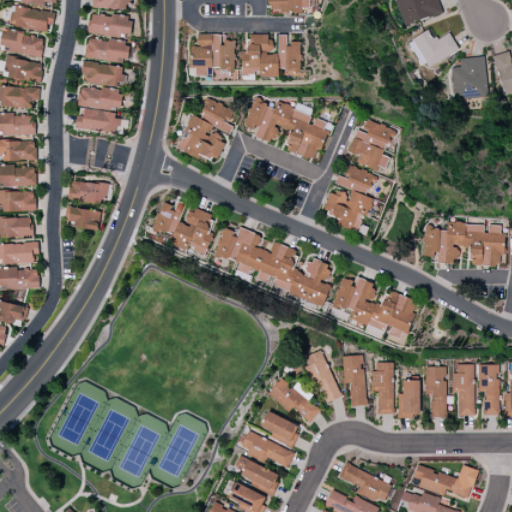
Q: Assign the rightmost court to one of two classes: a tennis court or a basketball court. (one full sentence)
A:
In the photo, the rightmost court shows up as a tennis court.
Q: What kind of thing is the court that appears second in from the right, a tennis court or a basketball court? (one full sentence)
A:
Looking closely, the court that appears second in from the right is a tennis court.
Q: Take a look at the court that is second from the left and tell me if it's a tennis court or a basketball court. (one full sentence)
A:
It turns out the court that is second from the left is a tennis court.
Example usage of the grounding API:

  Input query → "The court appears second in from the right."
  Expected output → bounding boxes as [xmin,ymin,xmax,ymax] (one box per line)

[111,412,169,488]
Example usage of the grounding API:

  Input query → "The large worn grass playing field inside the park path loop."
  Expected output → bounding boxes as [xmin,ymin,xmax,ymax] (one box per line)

[76,267,268,432]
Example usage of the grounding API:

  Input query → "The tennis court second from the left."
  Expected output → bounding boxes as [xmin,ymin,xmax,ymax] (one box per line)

[81,397,138,471]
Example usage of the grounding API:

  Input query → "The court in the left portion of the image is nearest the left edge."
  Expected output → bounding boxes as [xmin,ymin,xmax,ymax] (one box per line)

[52,380,108,455]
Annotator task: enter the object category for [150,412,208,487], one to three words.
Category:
tennis court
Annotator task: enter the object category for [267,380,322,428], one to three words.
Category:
house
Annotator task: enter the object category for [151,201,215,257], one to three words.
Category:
house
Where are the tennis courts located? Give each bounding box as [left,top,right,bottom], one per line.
[111,412,169,488]
[52,380,108,455]
[81,397,138,471]
[150,412,208,487]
